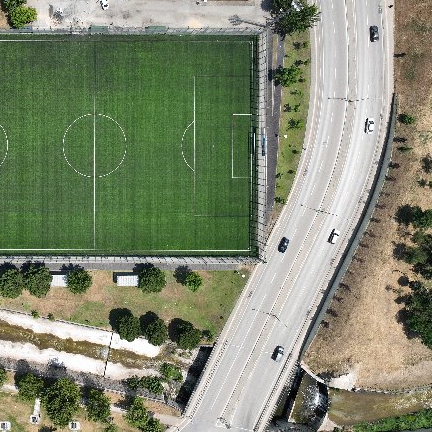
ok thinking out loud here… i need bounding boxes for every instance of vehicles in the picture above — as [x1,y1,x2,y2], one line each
[273,346,284,361]
[279,237,290,253]
[365,118,374,133]
[329,228,339,244]
[370,26,379,42]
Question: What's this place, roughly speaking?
sports ground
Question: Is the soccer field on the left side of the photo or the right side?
left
